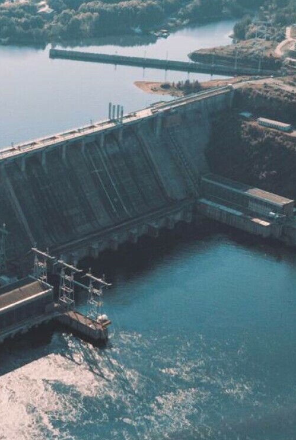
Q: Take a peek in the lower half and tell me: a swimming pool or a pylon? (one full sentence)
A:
It is a pylon that can be seen in the lower half.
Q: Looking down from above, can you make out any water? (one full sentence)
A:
Yes, there's water in this view.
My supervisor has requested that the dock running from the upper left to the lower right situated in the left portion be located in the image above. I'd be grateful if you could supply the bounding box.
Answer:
[49,291,117,339]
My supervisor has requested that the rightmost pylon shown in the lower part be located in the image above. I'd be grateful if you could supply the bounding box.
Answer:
[86,266,111,322]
